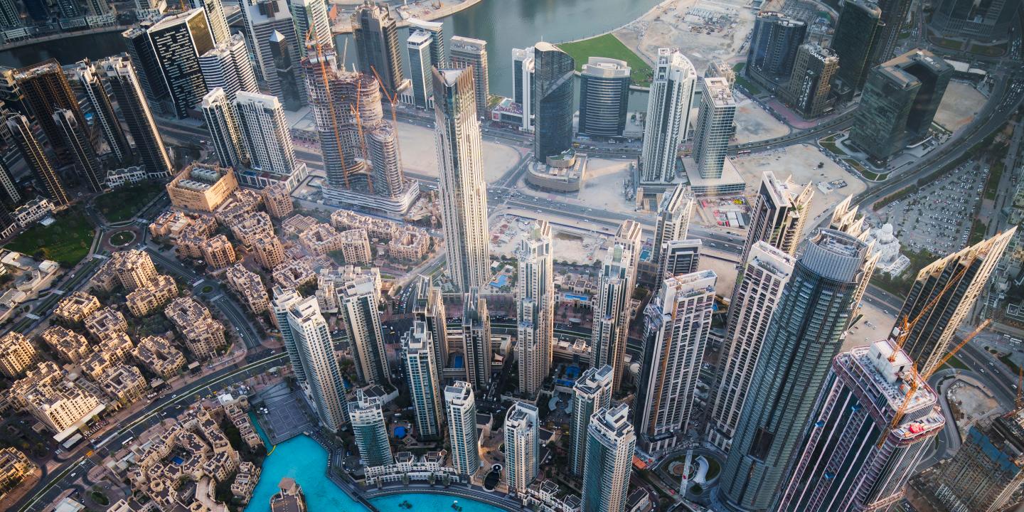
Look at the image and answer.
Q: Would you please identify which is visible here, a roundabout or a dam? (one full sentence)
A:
Looking from above, you can make out a roundabout.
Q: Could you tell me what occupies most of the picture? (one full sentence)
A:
What you mostly see from above here is buildings.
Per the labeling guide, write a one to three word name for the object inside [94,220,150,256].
roundabout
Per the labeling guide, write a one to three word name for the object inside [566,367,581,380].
swimming pool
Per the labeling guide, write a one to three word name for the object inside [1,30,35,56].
building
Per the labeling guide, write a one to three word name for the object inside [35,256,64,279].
building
